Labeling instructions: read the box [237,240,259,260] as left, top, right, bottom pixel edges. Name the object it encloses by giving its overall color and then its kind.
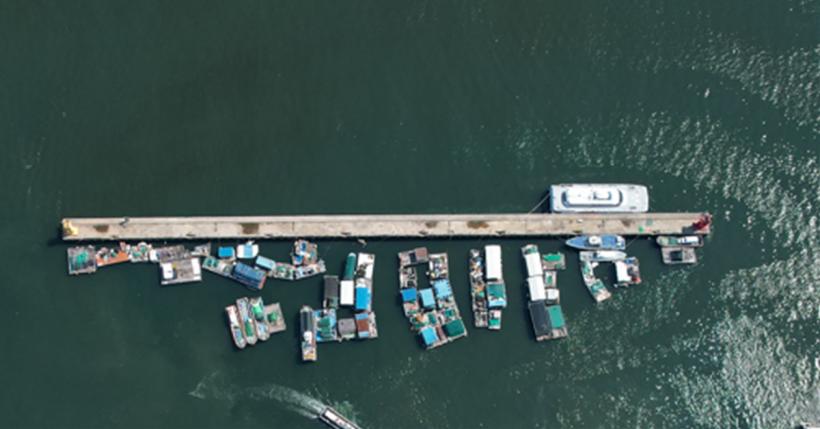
white boat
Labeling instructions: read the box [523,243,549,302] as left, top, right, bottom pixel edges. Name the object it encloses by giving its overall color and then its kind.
white boat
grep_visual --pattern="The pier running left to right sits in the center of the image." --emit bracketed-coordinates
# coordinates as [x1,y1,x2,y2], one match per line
[62,212,713,243]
